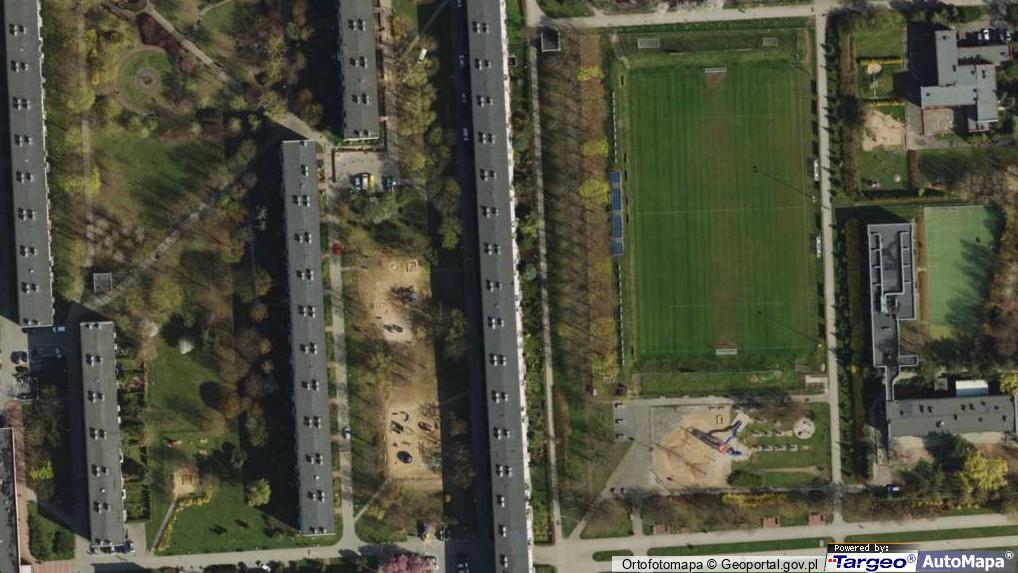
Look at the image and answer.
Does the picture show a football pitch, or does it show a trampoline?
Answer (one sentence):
I can see a football pitch in this picture.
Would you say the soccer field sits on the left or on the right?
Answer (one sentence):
The soccer field is on the right side of the image.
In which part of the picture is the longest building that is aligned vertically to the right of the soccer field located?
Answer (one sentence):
The longest building that is aligned vertically to the right of the soccer field is located in the right region of the scene.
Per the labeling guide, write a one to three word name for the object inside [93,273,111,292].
house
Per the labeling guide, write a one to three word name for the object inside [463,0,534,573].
building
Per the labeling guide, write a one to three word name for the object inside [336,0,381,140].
building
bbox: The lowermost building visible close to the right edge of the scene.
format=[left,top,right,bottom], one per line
[887,395,1015,437]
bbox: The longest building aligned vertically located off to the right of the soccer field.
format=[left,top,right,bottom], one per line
[867,223,918,401]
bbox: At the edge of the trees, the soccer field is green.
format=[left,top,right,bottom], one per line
[621,62,818,374]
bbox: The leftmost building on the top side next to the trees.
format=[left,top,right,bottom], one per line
[4,0,56,327]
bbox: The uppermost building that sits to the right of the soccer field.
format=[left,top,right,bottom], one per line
[922,29,1011,131]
